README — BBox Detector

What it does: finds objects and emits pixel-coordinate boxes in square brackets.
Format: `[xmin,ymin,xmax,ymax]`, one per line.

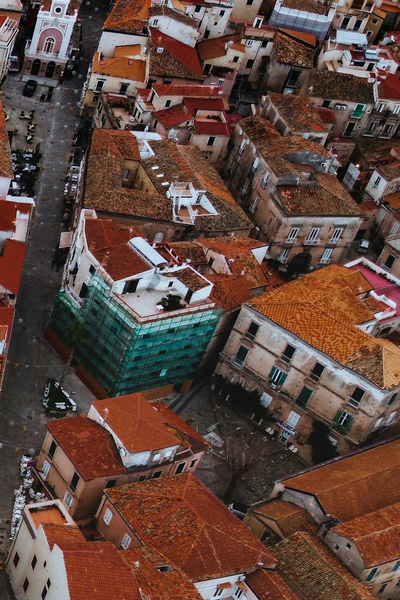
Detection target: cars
[220,493,253,523]
[25,82,37,94]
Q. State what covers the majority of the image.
buildings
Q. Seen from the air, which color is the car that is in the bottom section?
black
